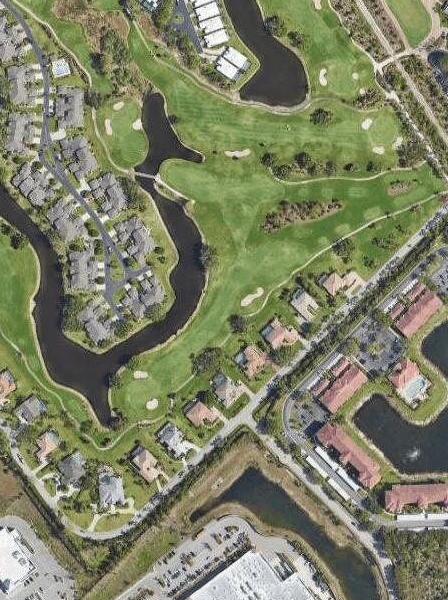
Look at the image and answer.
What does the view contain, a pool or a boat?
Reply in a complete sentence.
I can see a pool in this picture.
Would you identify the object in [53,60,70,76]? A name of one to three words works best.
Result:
swimming pool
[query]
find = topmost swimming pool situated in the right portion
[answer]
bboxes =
[399,371,433,404]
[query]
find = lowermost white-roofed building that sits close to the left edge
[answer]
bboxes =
[0,529,37,591]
